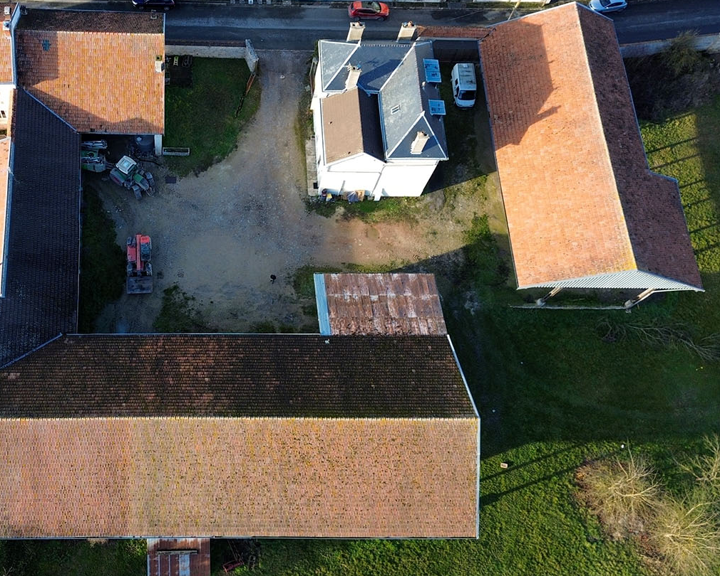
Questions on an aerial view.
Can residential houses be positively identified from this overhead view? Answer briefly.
Yes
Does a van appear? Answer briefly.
Yes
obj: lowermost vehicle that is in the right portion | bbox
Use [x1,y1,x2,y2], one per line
[451,56,481,109]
